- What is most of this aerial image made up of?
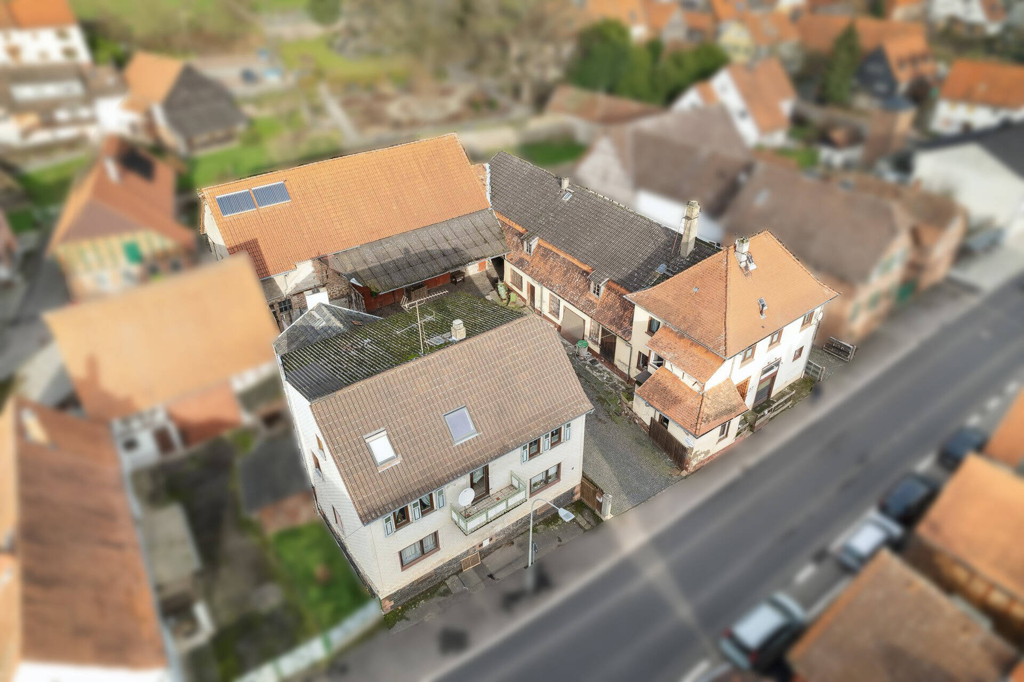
buildings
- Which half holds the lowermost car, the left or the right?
right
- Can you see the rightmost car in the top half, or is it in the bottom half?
bottom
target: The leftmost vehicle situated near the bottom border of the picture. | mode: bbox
[728,593,810,672]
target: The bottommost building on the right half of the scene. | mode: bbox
[789,538,1024,682]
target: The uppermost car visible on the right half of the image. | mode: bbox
[941,426,996,469]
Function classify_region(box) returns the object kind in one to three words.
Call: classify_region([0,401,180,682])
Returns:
house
